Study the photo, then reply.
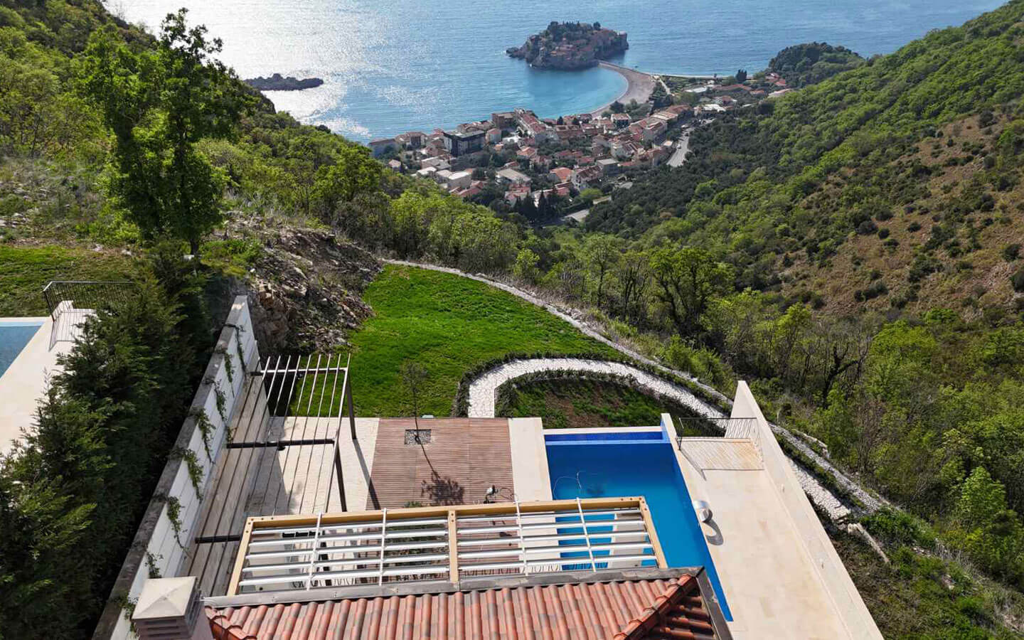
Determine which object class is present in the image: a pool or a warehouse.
pool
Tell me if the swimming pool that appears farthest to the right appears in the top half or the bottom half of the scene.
bottom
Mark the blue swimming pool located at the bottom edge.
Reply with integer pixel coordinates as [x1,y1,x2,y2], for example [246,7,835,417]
[544,415,730,619]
